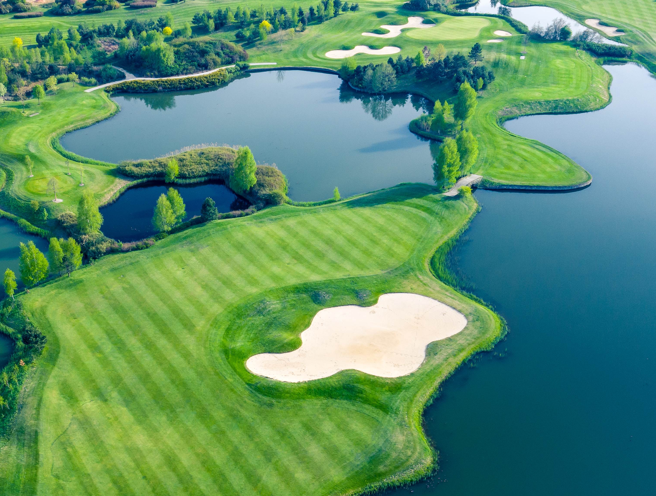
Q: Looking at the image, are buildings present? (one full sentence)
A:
No, no building is visible in the scene.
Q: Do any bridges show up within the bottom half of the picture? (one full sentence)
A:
No, I can find no bridge within the bottom half of the picture.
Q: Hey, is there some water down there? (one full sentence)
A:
Yes, there's water in this view.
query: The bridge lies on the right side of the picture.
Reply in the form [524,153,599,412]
[438,170,485,200]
